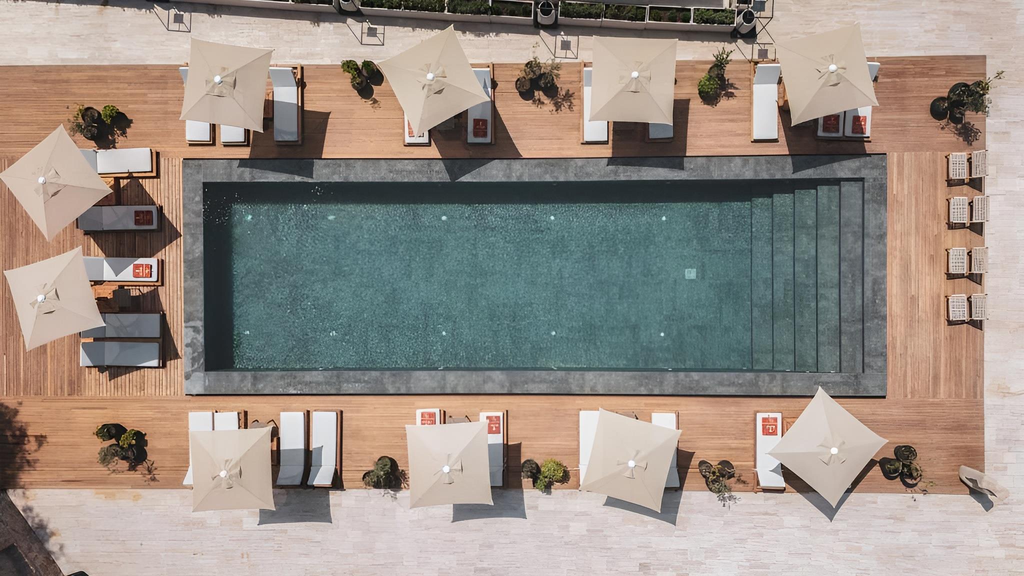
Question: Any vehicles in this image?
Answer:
No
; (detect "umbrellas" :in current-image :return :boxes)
[773,22,879,127]
[180,36,273,133]
[187,425,277,515]
[0,122,114,242]
[578,407,684,513]
[766,386,889,508]
[2,246,107,352]
[405,420,494,509]
[378,25,492,142]
[588,35,679,125]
